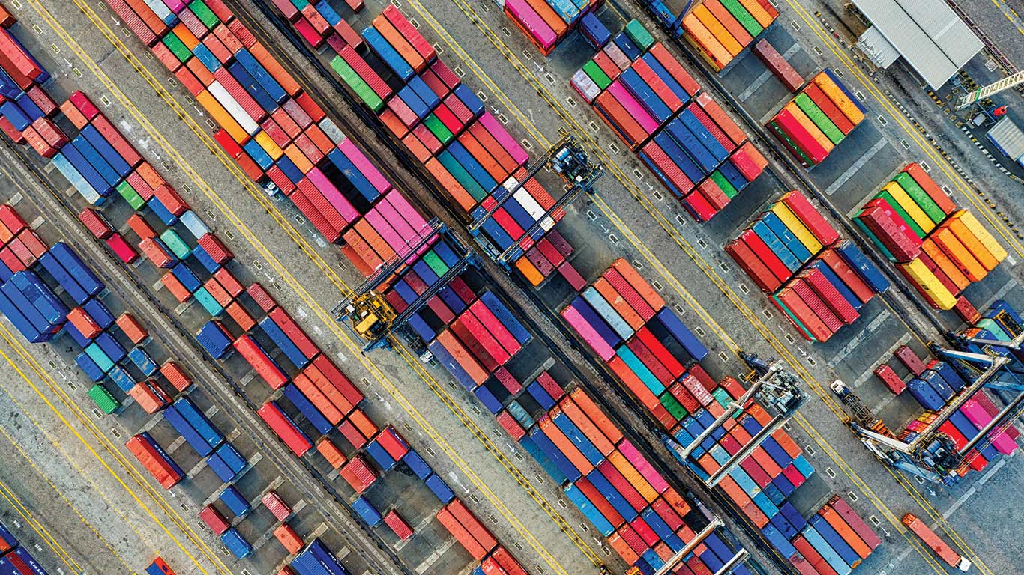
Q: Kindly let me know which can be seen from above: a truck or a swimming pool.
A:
truck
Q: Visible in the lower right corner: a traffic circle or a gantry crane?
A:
gantry crane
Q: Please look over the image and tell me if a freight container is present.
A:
Yes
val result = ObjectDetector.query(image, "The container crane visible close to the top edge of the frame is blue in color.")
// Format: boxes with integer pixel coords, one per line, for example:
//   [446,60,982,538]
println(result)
[642,0,692,38]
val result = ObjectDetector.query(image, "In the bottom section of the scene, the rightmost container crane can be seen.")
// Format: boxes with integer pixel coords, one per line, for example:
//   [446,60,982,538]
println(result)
[947,329,1024,378]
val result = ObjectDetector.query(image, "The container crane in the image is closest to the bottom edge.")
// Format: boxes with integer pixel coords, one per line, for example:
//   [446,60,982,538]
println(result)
[651,485,751,575]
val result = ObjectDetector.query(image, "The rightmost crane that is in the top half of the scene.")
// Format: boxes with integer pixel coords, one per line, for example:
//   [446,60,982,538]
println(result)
[945,70,1024,114]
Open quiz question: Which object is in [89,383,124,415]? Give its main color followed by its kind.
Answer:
green shipping container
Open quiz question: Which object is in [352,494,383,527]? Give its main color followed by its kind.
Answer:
blue shipping container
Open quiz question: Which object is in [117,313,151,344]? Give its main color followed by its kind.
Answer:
red shipping container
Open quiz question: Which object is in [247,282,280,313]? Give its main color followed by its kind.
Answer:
red shipping container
